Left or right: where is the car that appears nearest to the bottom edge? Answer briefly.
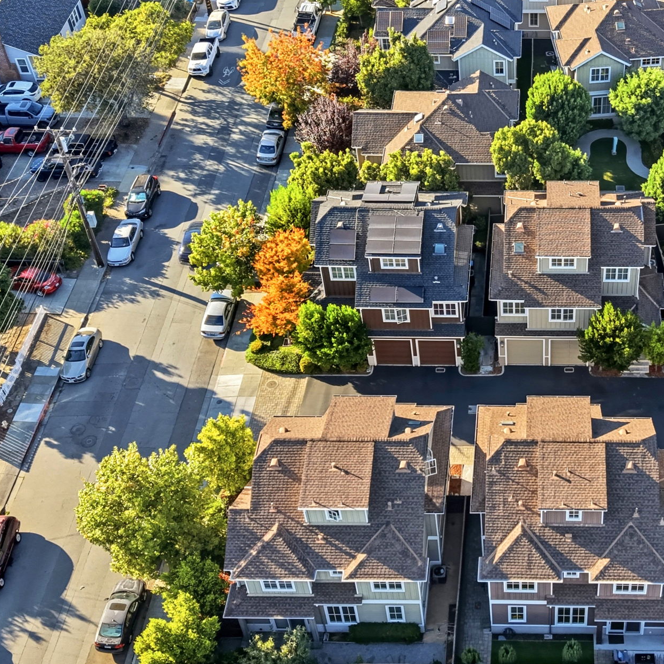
left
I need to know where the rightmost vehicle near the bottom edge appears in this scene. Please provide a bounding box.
[92,584,149,655]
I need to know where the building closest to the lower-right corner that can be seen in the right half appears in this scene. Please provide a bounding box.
[469,400,664,653]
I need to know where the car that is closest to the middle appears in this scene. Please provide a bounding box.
[199,295,238,343]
